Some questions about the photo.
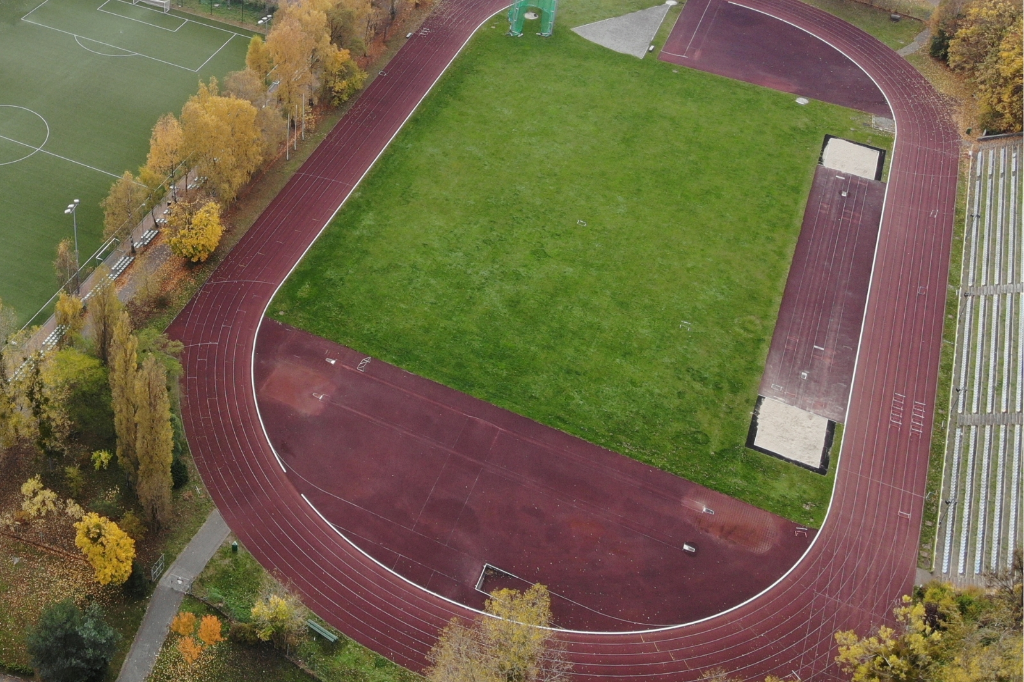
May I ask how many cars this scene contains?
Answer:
0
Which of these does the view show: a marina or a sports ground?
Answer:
sports ground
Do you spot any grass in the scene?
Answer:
Yes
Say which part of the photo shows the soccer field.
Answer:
top left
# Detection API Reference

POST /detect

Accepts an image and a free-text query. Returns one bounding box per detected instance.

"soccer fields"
[0,0,304,356]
